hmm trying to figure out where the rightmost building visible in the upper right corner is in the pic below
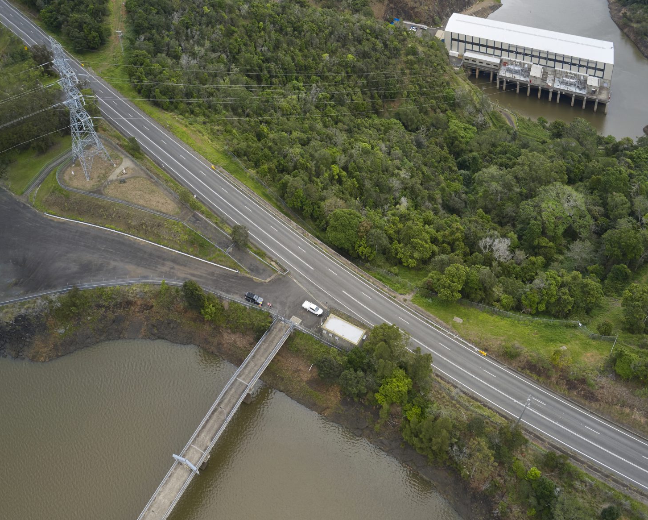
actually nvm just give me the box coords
[447,13,618,115]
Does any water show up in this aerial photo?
Yes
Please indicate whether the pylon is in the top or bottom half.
top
